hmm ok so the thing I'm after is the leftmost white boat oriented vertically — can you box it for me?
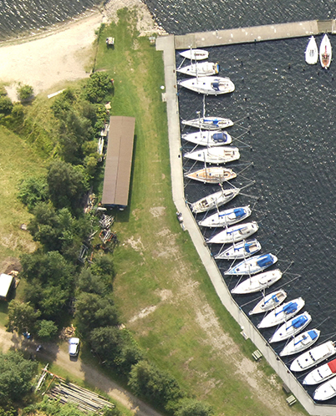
[305,36,319,68]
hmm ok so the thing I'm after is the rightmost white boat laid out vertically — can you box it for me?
[317,29,336,78]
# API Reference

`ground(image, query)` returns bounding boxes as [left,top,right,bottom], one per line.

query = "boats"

[181,153,247,184]
[180,129,251,164]
[262,306,329,345]
[204,212,271,252]
[229,263,298,294]
[179,50,242,79]
[281,329,326,356]
[303,359,336,391]
[305,36,319,68]
[288,337,336,379]
[180,39,222,61]
[215,234,277,260]
[195,194,265,232]
[311,378,336,403]
[255,291,310,332]
[317,29,336,78]
[241,277,300,318]
[182,98,241,130]
[181,115,233,146]
[219,245,278,283]
[175,57,238,94]
[191,180,240,210]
